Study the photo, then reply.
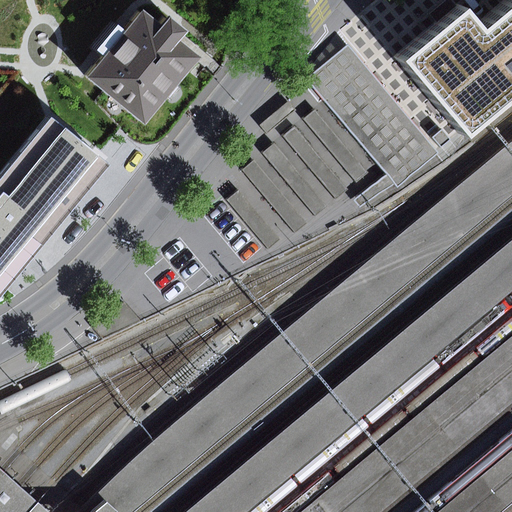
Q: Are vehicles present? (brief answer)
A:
Yes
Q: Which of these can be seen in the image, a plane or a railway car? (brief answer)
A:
railway car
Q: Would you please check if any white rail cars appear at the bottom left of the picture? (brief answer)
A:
Yes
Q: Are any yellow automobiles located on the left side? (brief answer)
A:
Yes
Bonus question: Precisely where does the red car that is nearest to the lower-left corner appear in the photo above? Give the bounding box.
[155,269,176,289]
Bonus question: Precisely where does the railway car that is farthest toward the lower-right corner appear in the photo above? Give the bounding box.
[438,426,512,502]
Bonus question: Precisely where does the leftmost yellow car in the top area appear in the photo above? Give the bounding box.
[125,149,144,172]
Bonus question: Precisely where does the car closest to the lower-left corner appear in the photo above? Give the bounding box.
[84,329,100,342]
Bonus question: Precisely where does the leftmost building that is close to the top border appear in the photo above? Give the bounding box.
[86,10,201,124]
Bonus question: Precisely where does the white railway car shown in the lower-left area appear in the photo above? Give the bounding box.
[0,371,72,412]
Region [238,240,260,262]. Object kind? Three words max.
car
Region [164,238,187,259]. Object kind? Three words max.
car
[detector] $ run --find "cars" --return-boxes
[214,210,236,230]
[208,200,229,221]
[172,248,194,268]
[155,269,176,289]
[230,231,252,252]
[62,222,82,242]
[125,149,144,172]
[238,240,260,262]
[180,258,202,279]
[164,280,186,302]
[222,222,244,242]
[164,238,187,259]
[84,329,100,342]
